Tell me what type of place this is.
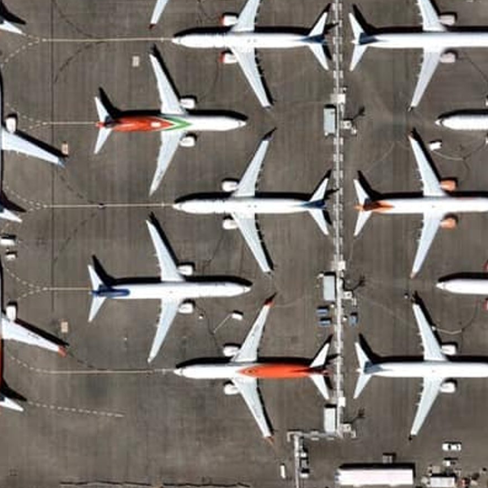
airport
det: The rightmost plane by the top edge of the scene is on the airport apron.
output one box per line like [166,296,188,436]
[348,0,488,112]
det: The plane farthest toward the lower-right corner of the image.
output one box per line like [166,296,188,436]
[354,300,488,442]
